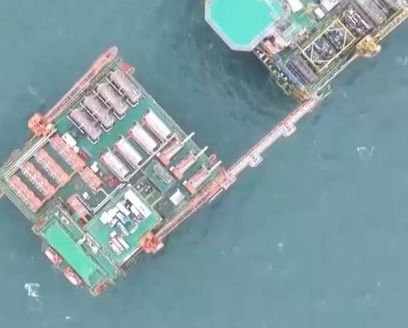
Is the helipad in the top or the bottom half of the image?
top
